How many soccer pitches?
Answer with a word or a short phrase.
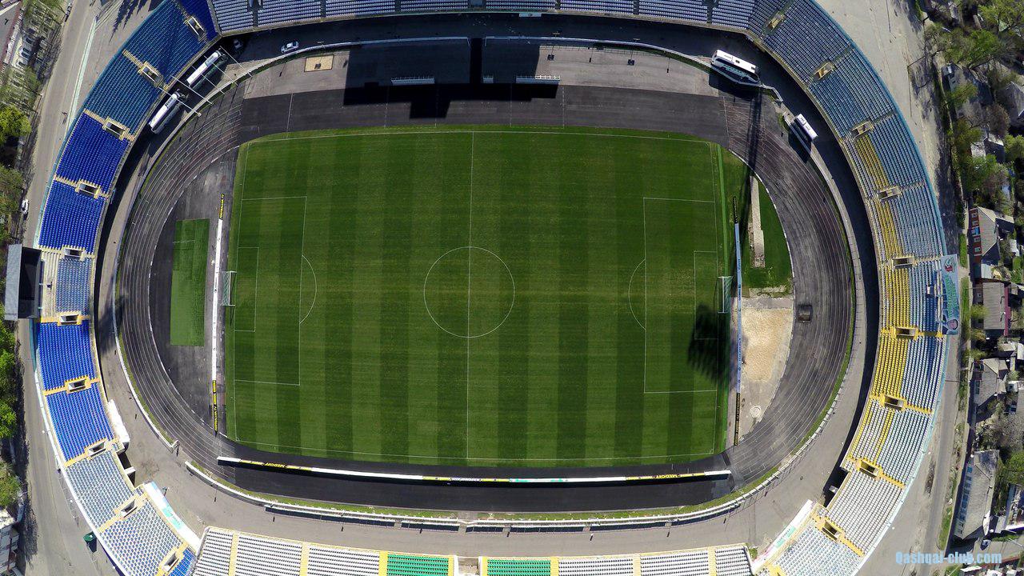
one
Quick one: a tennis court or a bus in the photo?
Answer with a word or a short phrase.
bus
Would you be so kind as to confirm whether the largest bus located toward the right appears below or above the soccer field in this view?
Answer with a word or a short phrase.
above it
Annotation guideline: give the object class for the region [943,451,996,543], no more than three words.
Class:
house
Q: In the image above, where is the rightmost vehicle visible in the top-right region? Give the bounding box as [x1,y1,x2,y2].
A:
[789,111,816,144]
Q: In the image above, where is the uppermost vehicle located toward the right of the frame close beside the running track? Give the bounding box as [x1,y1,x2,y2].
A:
[707,45,761,83]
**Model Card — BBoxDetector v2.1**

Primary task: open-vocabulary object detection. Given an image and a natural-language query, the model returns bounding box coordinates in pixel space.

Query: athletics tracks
[119,83,850,513]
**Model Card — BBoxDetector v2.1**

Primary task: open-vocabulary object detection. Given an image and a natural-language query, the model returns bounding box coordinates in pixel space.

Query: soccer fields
[224,125,734,467]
